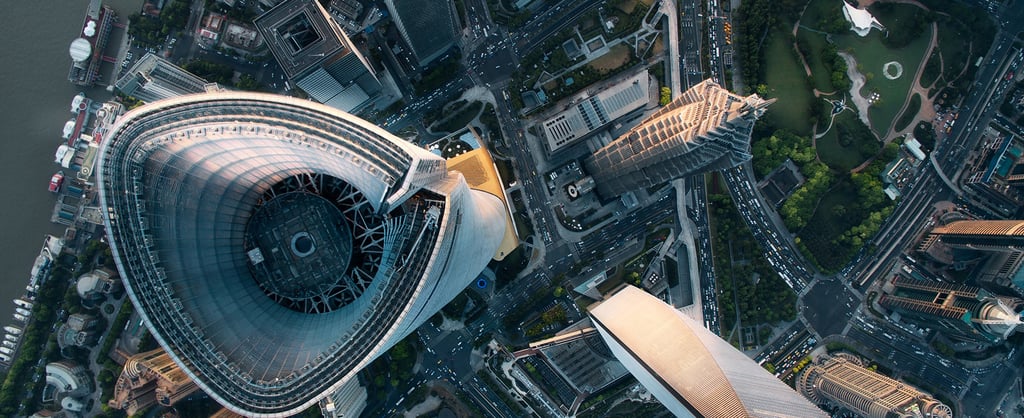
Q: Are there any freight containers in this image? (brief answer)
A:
No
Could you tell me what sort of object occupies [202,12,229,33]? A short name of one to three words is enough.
building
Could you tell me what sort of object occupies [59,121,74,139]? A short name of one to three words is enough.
ship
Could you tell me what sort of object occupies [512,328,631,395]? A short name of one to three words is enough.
building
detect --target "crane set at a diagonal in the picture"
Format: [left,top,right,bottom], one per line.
[391,203,442,274]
